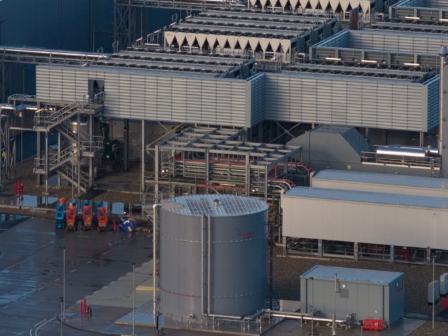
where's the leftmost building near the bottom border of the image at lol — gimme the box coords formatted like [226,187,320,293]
[299,260,419,322]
